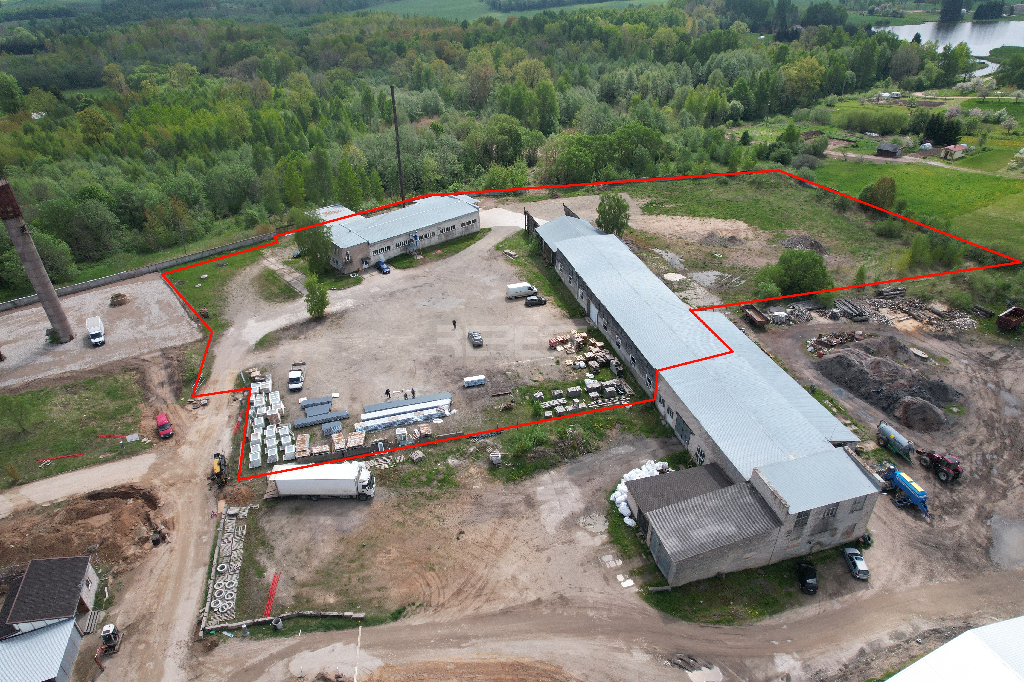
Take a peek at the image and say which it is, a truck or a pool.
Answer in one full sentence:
Looking from above, you can make out a truck.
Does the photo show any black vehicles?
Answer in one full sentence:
Yes, the frame does contain a black vehicle.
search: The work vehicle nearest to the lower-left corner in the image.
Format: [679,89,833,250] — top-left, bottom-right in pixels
[86,624,122,682]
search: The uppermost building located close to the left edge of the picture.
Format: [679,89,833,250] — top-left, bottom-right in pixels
[0,556,108,643]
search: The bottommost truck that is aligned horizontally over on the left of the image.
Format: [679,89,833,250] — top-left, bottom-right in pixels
[266,463,377,501]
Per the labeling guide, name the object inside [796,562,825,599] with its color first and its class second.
black car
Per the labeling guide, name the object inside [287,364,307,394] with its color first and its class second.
white vehicle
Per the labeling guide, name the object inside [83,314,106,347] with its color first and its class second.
white vehicle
